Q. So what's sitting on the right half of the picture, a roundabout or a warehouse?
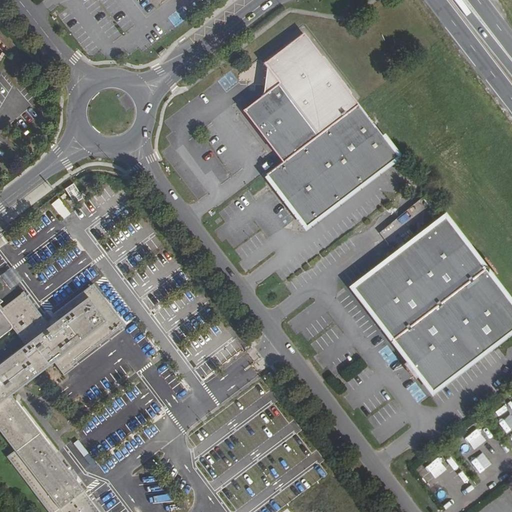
warehouse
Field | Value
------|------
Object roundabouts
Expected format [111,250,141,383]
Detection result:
[64,64,159,158]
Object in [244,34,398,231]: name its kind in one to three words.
warehouse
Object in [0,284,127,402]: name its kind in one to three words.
building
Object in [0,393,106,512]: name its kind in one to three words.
building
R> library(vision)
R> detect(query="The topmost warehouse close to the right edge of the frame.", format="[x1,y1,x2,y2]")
[350,213,512,396]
